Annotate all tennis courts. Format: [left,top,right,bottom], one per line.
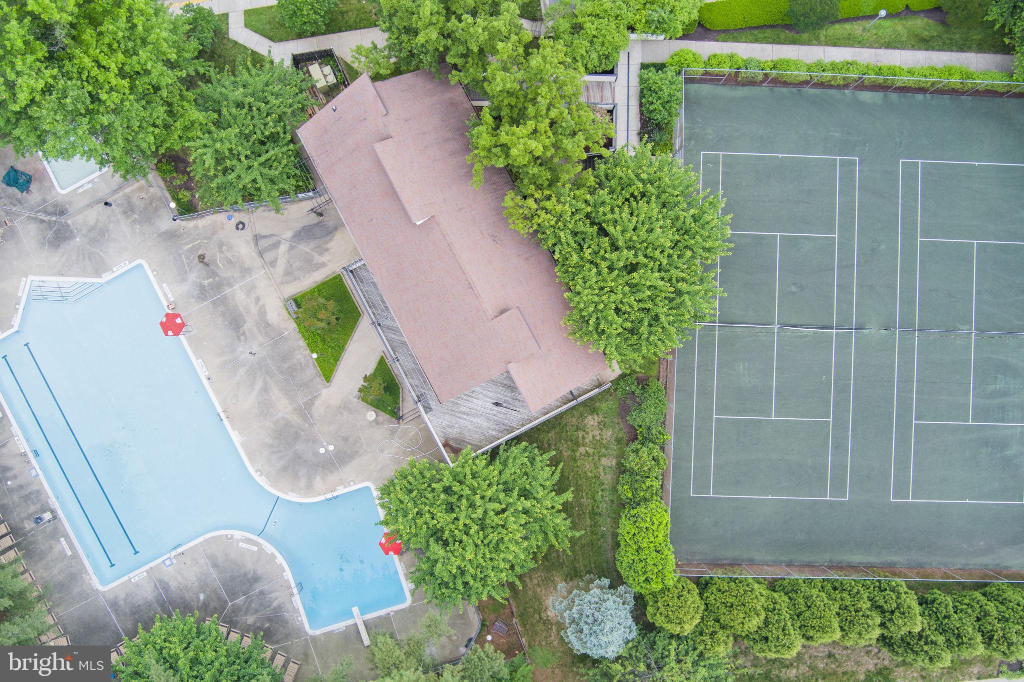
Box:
[870,91,1024,572]
[672,82,881,568]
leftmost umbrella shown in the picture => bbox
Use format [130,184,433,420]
[160,313,187,336]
